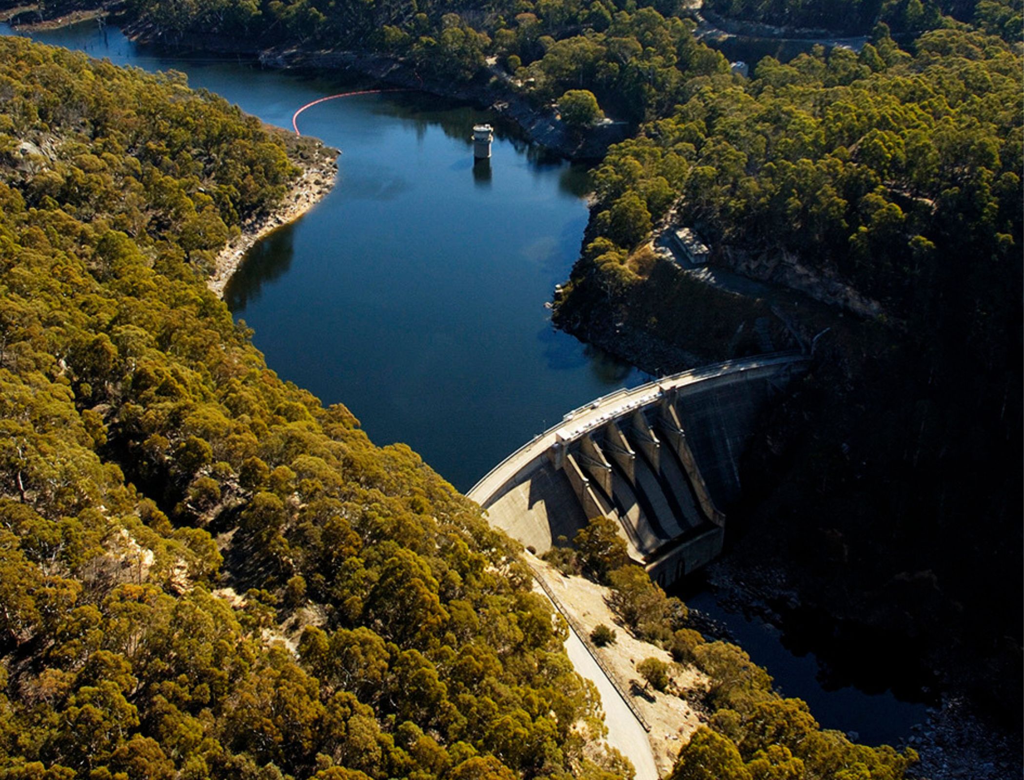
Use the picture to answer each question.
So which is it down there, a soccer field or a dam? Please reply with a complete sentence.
It is a dam that can be seen here.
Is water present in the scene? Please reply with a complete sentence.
Yes, some water is visible.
